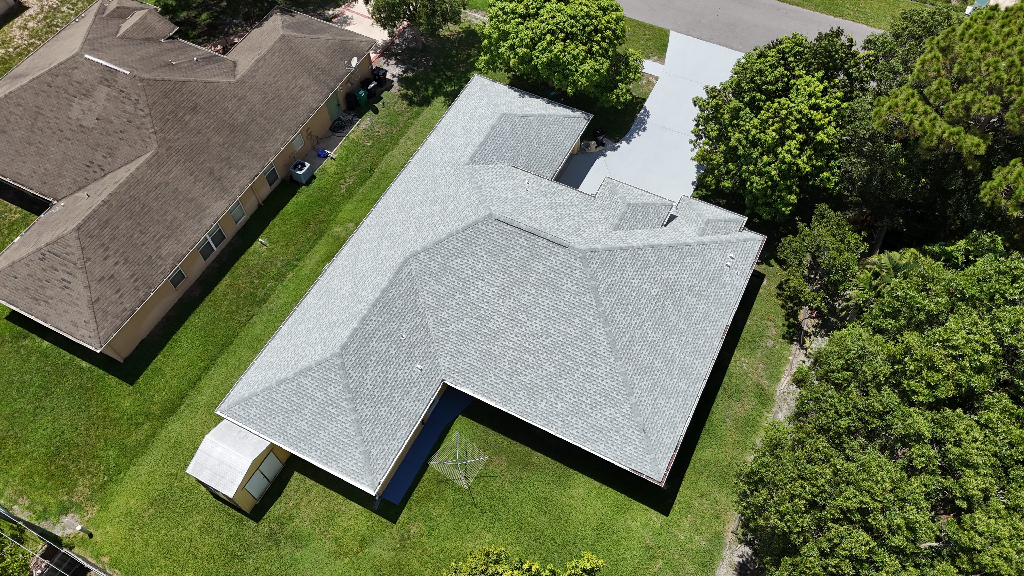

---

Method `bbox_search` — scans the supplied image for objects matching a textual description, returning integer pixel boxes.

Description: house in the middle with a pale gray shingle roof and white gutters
[215,74,766,507]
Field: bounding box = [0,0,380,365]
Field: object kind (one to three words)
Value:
house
